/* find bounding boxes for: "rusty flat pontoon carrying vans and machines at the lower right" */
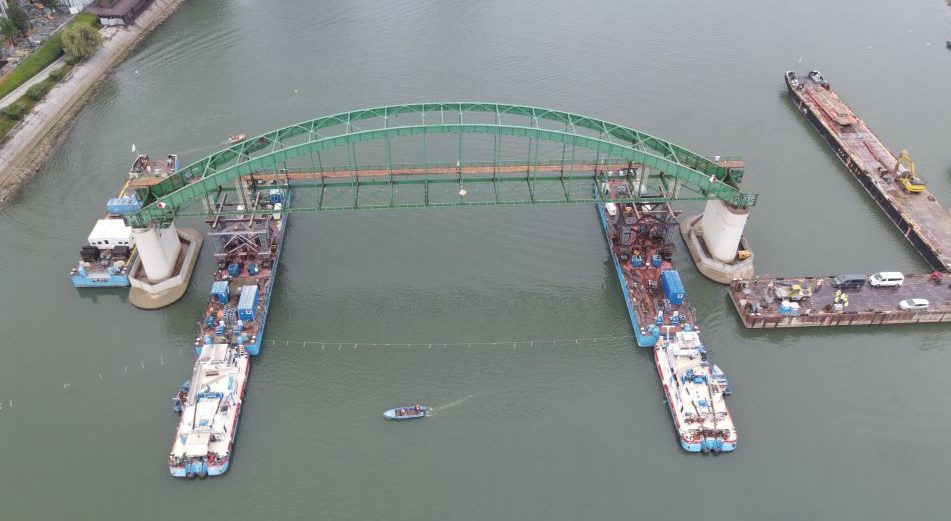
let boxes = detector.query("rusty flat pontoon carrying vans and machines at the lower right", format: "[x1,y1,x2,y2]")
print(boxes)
[723,272,951,328]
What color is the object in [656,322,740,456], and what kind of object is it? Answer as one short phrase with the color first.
white boat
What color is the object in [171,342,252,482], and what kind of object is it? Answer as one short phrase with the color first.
white boat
